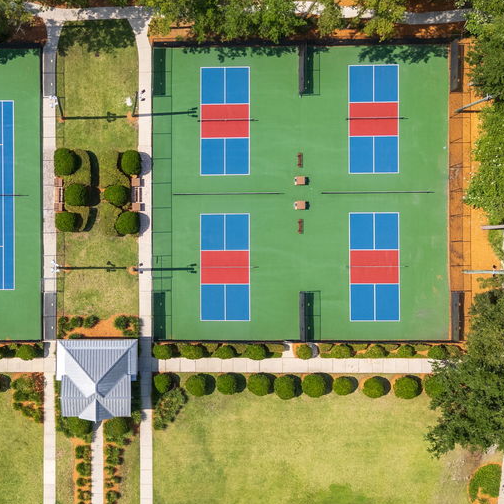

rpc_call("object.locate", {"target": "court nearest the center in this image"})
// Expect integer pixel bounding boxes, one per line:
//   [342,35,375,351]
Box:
[201,214,250,321]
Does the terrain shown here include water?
No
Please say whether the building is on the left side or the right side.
left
